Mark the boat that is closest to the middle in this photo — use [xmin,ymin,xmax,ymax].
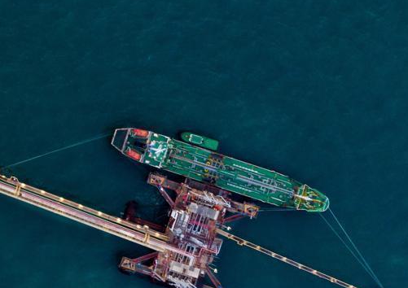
[180,131,219,150]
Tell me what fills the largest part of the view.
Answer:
water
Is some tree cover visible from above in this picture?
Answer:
No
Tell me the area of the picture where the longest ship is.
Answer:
center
